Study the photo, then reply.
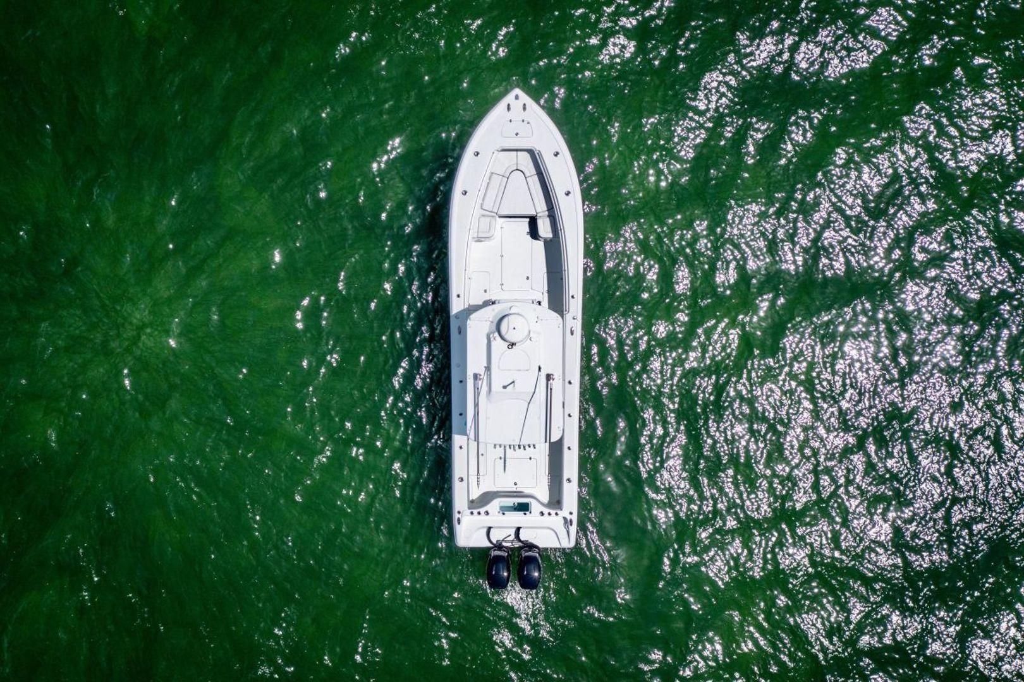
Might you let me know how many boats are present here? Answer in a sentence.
I count 1 boat.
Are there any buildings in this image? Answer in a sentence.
No, there appears to be no building in this shot.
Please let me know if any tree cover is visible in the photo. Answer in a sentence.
No, the picture contains no tree cover.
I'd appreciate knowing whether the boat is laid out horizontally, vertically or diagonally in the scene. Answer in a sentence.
Seen from above, the boat lies vertically.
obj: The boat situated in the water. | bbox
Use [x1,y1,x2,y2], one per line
[448,86,585,589]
